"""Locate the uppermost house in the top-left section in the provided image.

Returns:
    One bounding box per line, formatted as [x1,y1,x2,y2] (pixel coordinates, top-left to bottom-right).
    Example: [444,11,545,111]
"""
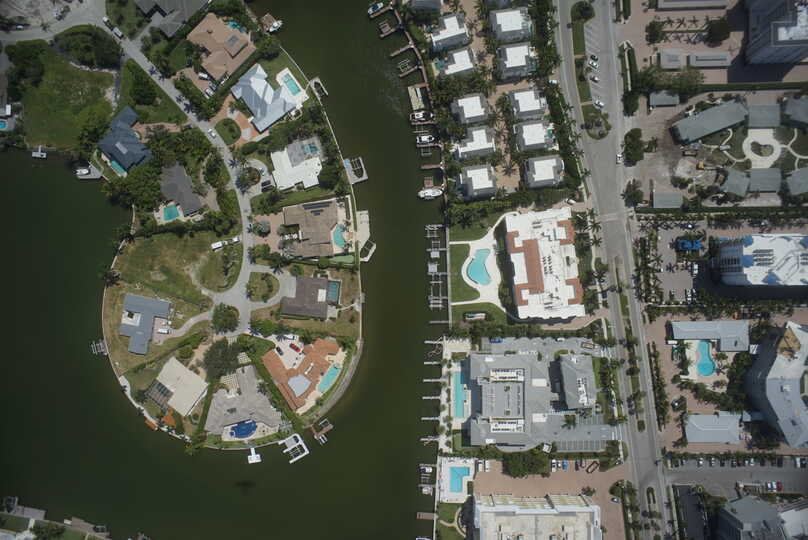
[135,0,209,37]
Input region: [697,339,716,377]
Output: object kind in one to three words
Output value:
swimming pool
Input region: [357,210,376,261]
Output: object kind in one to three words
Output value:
pier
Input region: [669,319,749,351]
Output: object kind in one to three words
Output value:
building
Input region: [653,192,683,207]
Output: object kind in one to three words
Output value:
shed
